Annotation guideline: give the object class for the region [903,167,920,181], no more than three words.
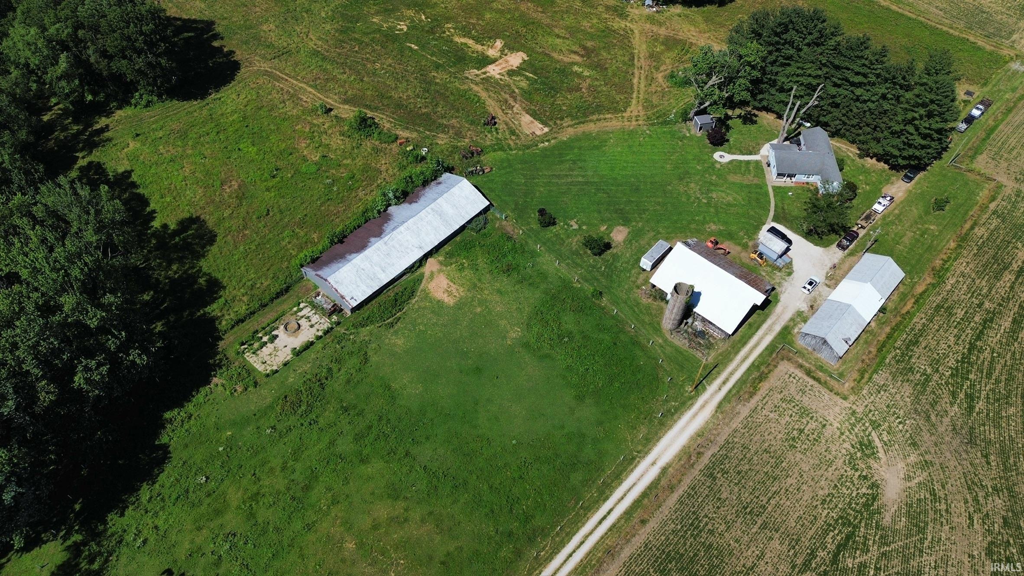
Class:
car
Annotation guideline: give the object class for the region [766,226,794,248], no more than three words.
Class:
vehicle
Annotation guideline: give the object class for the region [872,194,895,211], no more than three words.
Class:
vehicle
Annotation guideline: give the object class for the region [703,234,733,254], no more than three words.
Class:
work vehicle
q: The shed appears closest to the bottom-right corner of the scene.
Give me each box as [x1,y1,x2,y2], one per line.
[799,253,905,363]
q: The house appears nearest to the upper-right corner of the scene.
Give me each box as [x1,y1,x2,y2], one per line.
[768,124,844,192]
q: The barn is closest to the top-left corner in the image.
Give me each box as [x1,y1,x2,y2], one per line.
[304,173,491,314]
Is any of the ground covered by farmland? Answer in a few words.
Yes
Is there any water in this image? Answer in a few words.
No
